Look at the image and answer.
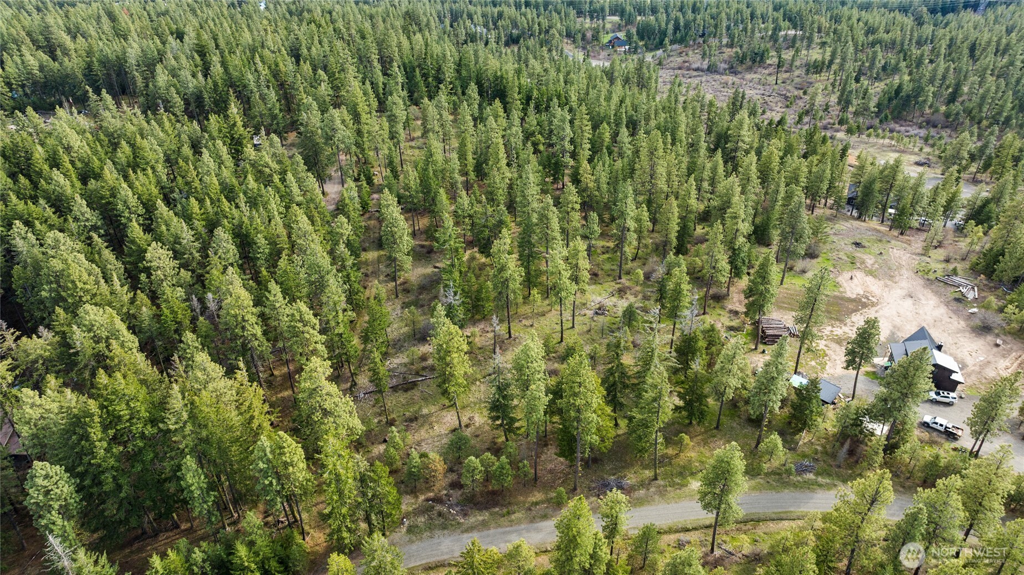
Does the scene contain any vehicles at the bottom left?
No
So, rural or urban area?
rural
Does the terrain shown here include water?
No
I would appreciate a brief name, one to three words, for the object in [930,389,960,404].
car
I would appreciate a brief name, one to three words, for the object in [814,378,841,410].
shed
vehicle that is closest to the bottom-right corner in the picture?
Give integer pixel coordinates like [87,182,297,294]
[921,413,964,437]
